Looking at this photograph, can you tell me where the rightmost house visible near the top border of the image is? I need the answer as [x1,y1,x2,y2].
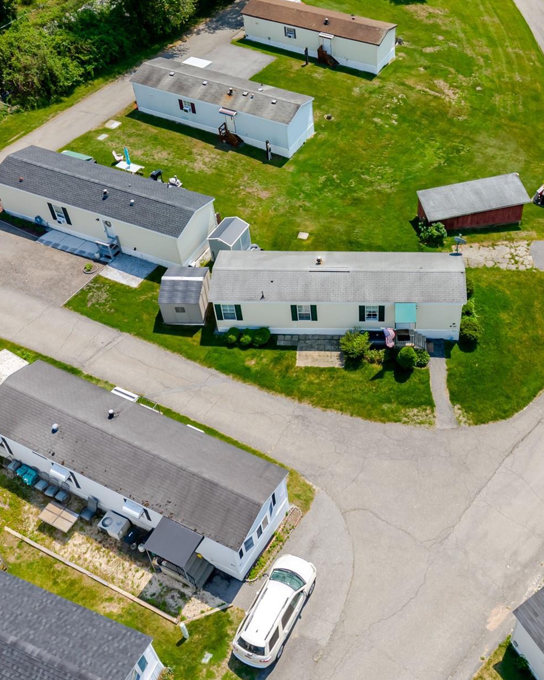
[239,0,398,74]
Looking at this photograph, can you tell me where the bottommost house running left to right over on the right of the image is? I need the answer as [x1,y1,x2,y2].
[207,247,467,344]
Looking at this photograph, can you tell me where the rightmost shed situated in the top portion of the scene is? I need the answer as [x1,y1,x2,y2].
[417,172,532,232]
